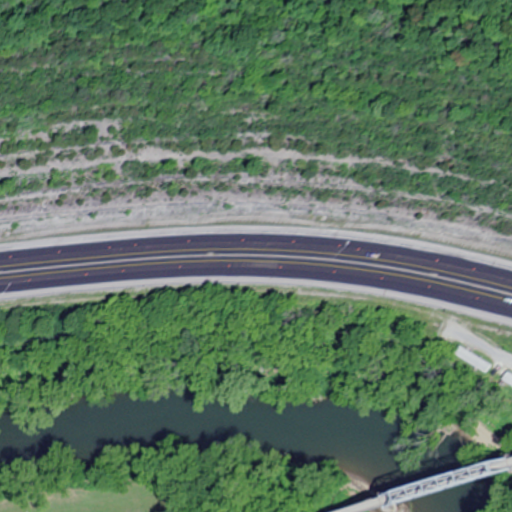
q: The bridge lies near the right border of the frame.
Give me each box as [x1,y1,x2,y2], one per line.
[322,453,512,512]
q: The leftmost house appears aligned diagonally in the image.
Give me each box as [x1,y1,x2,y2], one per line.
[454,345,492,374]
